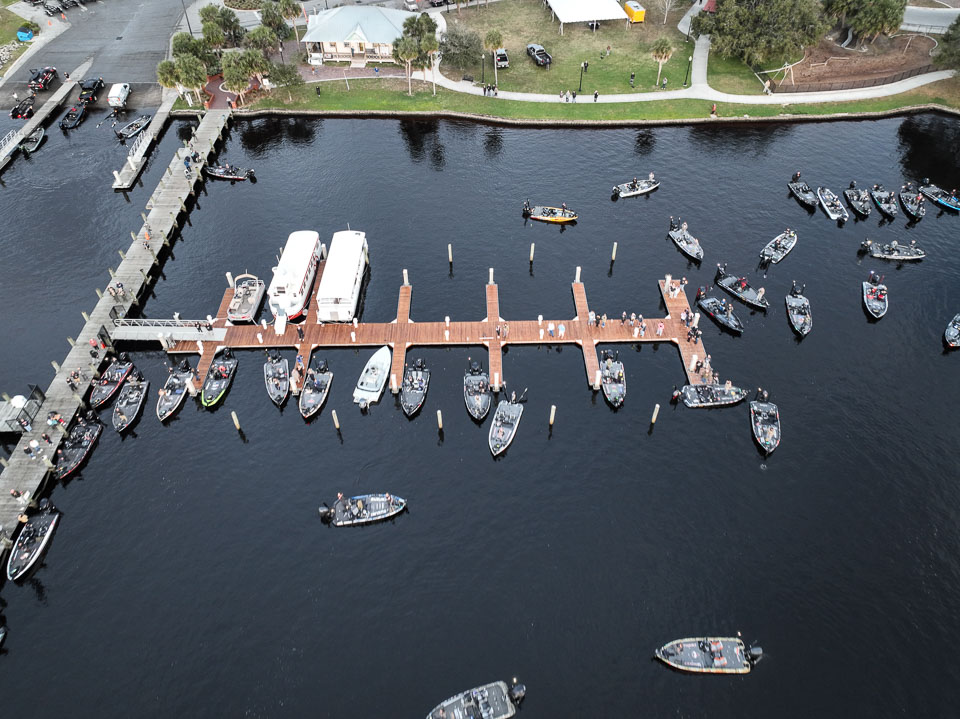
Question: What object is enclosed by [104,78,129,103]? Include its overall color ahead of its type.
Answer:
white vehicle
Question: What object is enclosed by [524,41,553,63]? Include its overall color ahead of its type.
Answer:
gray truck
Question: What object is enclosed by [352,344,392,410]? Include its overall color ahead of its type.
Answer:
white boat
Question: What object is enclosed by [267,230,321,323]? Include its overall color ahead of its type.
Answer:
white boat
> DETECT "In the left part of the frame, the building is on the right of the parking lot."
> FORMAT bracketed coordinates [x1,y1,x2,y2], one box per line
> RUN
[302,0,410,67]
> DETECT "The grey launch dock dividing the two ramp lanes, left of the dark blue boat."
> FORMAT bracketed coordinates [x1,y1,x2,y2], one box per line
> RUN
[0,82,77,178]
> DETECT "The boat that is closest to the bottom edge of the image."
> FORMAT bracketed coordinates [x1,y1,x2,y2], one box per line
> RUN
[432,682,520,719]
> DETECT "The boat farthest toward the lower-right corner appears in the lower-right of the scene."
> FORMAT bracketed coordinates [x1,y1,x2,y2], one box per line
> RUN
[655,636,759,672]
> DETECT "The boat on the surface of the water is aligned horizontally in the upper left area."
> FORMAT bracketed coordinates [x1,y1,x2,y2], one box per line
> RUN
[202,159,252,180]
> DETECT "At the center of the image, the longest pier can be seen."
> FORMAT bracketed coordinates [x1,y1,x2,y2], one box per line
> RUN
[162,243,715,400]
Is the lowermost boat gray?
Yes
